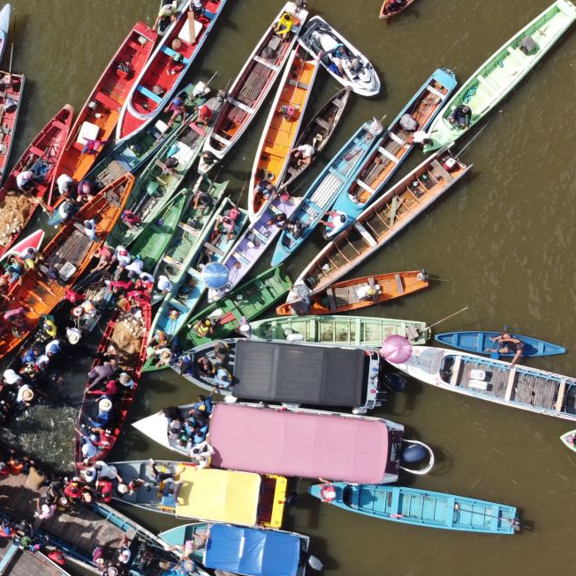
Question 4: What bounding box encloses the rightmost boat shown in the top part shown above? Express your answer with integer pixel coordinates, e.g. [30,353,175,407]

[419,0,576,155]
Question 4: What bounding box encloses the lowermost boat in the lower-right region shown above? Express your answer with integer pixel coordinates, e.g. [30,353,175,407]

[308,482,530,535]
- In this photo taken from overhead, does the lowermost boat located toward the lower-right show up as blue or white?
blue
